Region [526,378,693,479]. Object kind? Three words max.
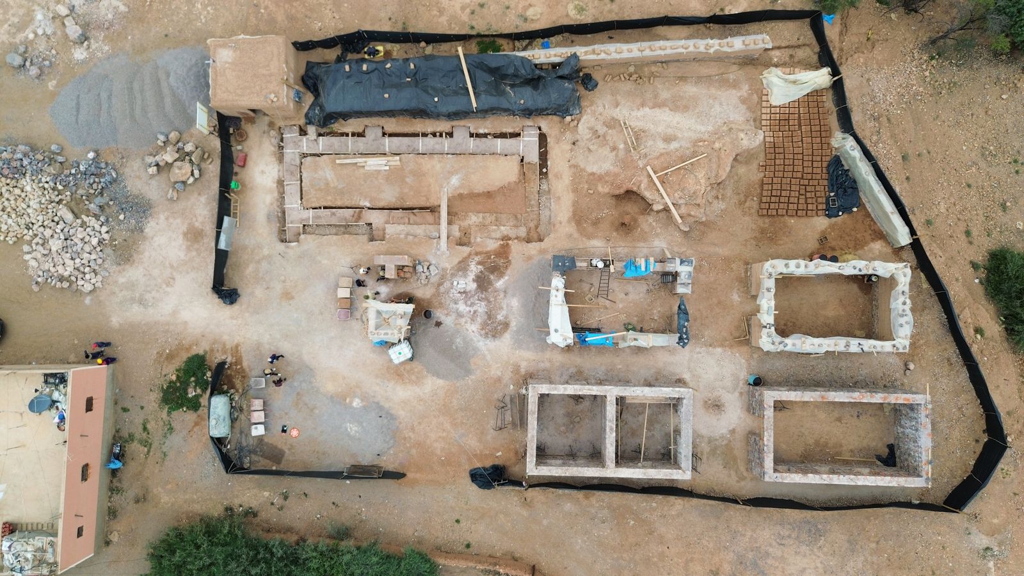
house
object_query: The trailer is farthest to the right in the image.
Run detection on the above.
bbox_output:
[205,391,236,456]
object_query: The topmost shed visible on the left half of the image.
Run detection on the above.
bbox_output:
[205,34,312,130]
